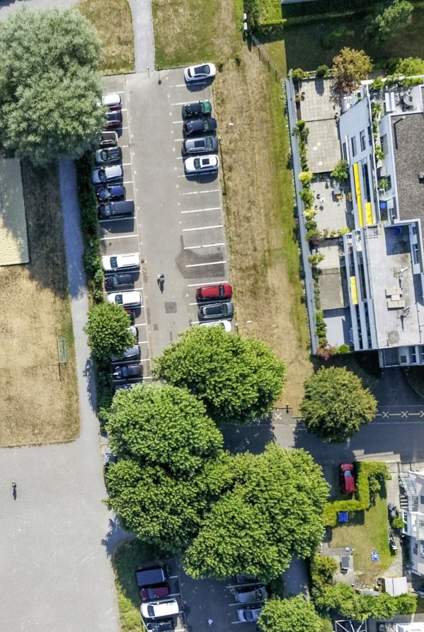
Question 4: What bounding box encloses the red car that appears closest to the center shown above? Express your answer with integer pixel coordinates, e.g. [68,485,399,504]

[195,283,230,302]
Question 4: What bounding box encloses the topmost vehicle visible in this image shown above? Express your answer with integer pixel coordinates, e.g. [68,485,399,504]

[182,65,215,83]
